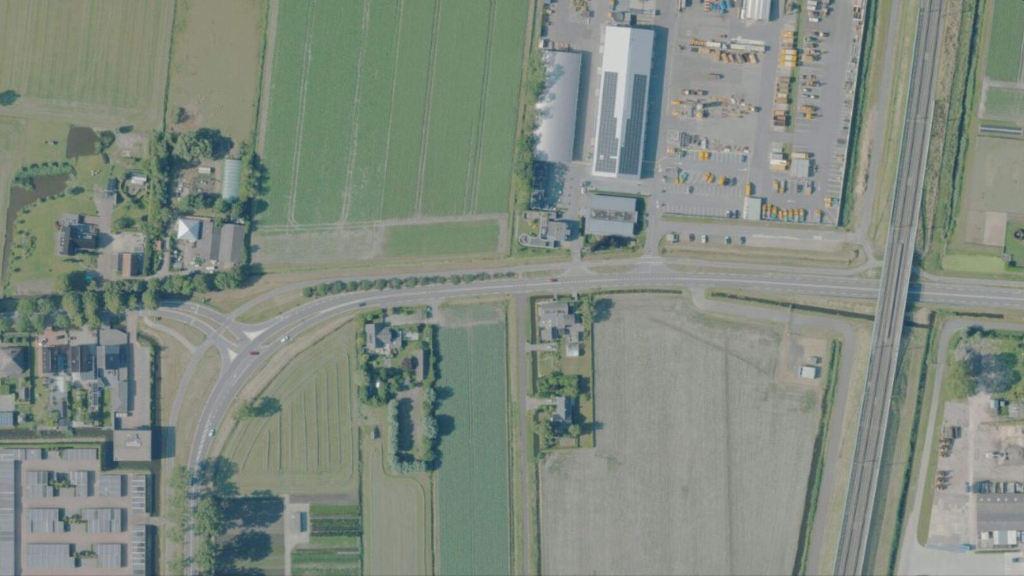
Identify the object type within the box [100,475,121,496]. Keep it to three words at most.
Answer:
shed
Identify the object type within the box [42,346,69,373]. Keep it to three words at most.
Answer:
house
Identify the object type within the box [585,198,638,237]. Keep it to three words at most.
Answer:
building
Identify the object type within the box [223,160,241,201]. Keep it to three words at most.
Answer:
greenhouse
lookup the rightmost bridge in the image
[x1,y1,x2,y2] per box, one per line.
[834,0,947,576]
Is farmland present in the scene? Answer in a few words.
Yes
